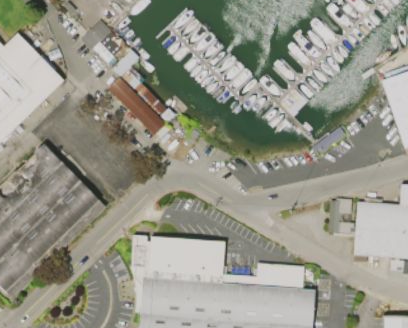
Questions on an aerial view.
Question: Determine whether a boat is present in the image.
Yes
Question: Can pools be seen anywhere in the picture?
No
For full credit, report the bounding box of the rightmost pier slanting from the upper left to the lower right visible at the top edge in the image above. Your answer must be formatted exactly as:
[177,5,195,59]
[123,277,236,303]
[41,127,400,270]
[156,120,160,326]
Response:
[156,8,244,102]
